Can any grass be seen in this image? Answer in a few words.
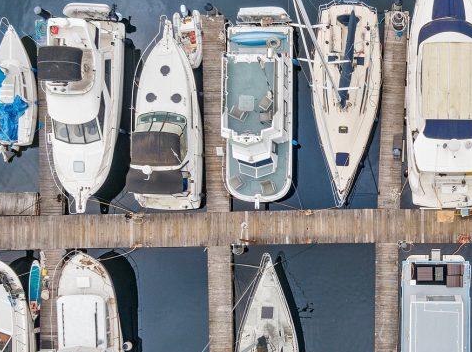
No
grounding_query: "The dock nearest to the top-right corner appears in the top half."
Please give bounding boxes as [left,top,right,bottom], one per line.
[377,10,408,209]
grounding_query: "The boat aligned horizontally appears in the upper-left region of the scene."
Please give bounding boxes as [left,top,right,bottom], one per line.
[62,0,110,22]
